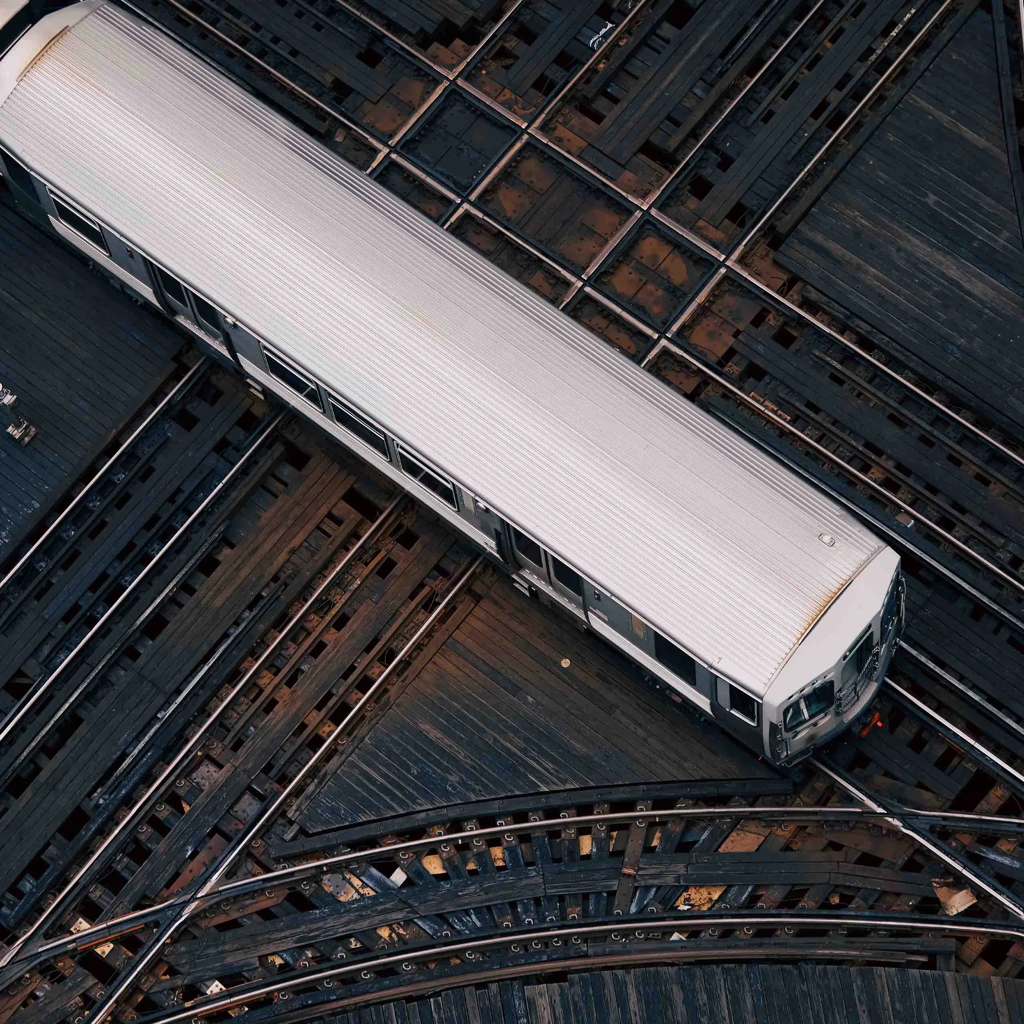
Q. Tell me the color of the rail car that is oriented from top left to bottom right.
white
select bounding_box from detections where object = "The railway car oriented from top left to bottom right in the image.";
[0,0,915,772]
